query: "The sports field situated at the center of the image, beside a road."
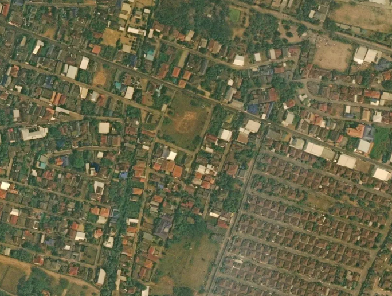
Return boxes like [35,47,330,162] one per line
[158,94,210,148]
